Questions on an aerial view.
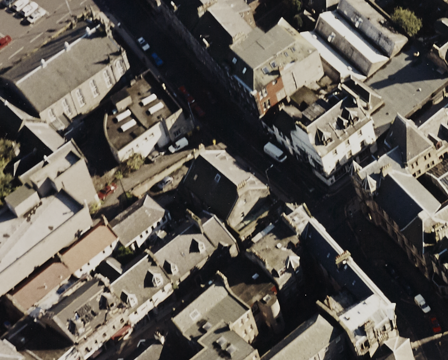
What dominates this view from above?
buildings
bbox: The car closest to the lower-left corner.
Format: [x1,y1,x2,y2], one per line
[98,184,116,198]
